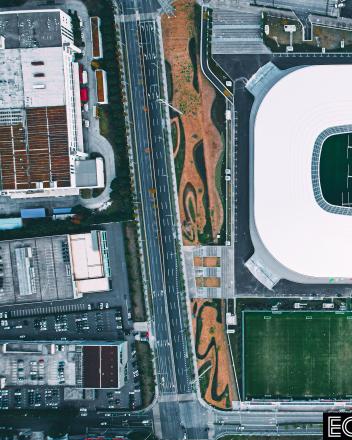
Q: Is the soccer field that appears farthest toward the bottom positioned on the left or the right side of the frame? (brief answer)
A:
right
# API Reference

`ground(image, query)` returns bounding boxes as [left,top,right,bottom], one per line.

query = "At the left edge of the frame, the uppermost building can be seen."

[0,9,88,198]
